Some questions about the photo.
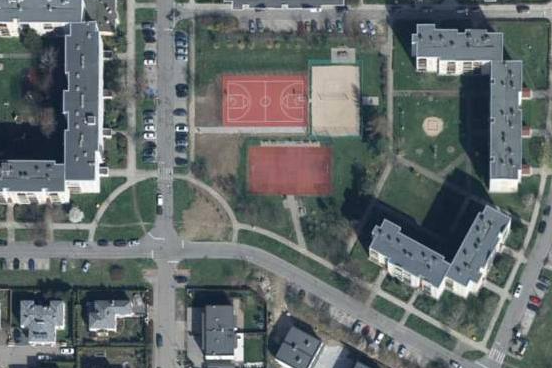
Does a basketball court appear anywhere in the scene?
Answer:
Yes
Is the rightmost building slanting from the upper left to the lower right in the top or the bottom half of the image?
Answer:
bottom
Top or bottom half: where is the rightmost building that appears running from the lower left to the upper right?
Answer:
bottom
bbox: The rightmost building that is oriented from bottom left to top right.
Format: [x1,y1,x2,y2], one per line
[448,206,511,296]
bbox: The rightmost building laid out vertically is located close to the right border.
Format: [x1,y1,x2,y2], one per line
[489,61,528,191]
